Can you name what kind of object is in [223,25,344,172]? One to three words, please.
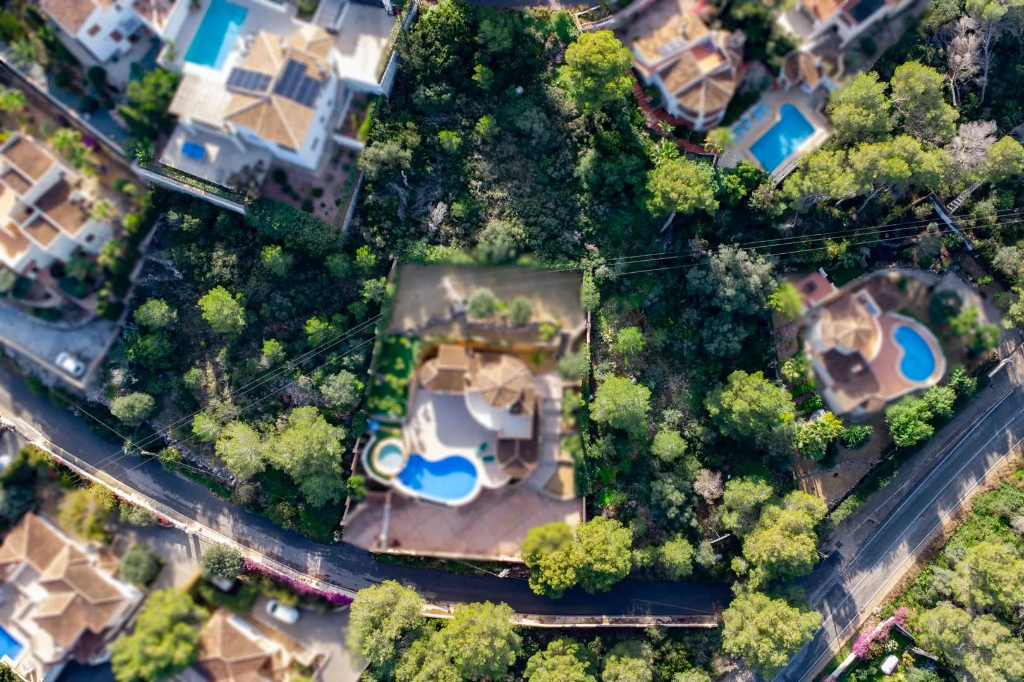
house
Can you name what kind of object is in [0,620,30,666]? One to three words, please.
swimming pool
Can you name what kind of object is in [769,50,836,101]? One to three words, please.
building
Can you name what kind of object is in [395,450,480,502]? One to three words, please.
swimming pool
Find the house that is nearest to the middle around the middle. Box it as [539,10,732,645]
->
[417,345,540,479]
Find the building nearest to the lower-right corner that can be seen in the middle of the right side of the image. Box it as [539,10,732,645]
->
[802,287,884,420]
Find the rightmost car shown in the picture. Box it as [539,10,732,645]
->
[268,597,303,624]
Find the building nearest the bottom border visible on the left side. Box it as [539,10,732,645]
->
[193,605,317,682]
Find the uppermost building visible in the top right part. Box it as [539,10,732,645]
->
[774,0,908,59]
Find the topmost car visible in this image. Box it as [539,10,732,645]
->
[56,350,91,377]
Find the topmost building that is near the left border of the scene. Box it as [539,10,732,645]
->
[41,0,163,77]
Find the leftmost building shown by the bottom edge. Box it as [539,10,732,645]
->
[0,508,156,663]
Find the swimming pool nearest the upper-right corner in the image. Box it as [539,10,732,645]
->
[741,95,824,182]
